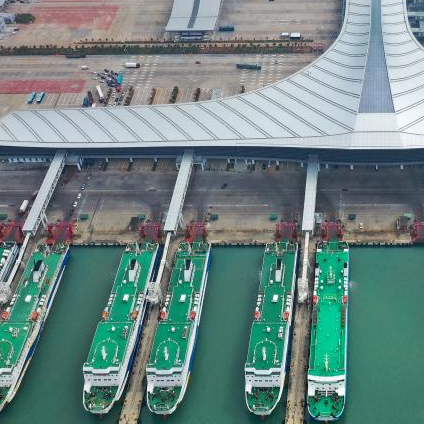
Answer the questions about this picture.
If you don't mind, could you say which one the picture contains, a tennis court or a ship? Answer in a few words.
ship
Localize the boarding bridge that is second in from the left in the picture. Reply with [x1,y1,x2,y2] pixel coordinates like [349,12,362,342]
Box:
[147,155,207,307]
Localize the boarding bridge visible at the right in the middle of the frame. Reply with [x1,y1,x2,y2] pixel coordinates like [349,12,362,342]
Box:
[296,160,332,307]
